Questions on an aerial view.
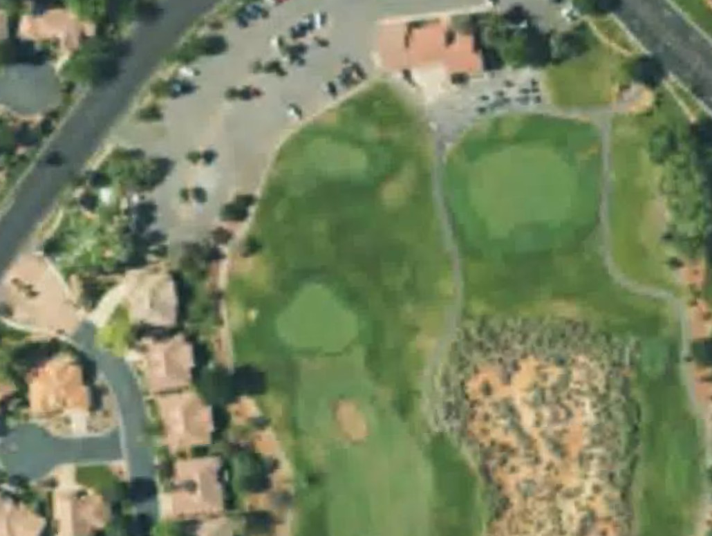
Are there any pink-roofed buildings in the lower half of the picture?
No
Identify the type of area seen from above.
golf course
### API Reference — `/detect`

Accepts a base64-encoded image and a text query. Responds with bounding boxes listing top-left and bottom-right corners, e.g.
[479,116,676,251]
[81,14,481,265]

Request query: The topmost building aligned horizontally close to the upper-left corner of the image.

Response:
[15,10,97,50]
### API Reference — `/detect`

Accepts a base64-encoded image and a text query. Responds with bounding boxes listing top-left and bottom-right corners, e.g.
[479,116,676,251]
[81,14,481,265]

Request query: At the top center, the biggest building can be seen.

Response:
[377,19,485,80]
